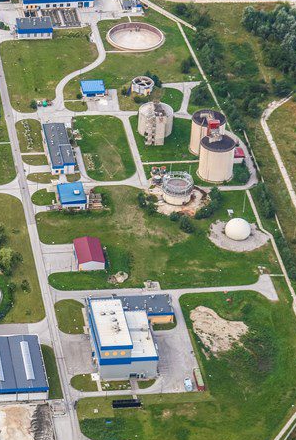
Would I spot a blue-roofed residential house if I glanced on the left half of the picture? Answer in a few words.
Yes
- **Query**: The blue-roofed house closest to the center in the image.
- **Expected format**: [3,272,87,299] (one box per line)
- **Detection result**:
[55,183,88,214]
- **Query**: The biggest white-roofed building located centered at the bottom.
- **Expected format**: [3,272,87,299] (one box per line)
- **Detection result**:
[80,286,175,389]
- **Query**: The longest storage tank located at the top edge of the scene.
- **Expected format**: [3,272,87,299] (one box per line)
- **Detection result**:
[104,22,169,54]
